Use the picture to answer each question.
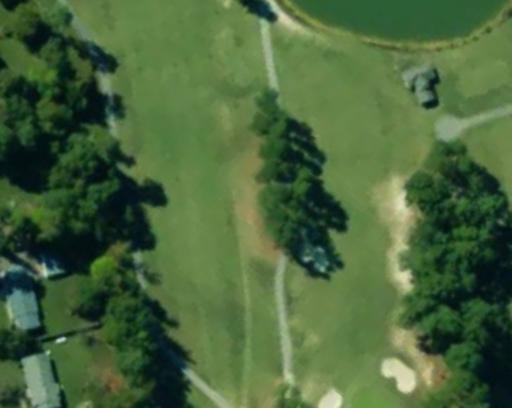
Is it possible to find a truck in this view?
No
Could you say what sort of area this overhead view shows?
golf course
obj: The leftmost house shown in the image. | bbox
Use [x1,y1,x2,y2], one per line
[3,268,40,329]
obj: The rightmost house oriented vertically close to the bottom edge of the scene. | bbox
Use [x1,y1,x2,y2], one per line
[23,350,62,408]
